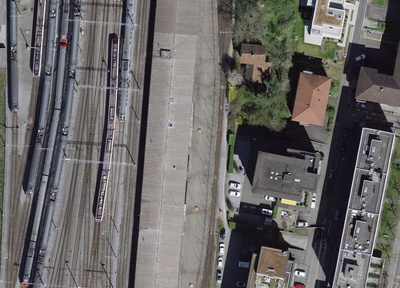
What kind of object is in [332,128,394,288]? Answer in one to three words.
building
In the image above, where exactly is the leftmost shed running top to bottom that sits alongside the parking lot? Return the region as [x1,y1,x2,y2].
[134,0,198,288]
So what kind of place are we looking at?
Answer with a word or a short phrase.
rail yard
